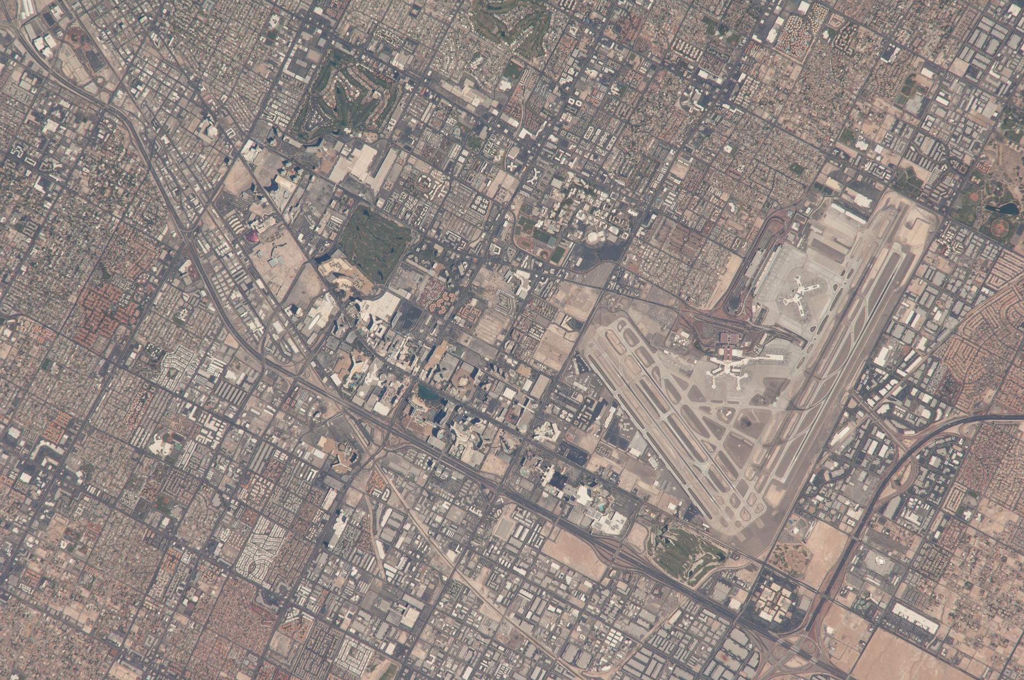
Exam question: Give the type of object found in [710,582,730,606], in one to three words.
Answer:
building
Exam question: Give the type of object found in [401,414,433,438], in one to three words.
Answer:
building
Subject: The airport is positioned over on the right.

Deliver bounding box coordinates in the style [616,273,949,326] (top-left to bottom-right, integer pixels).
[561,189,942,559]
